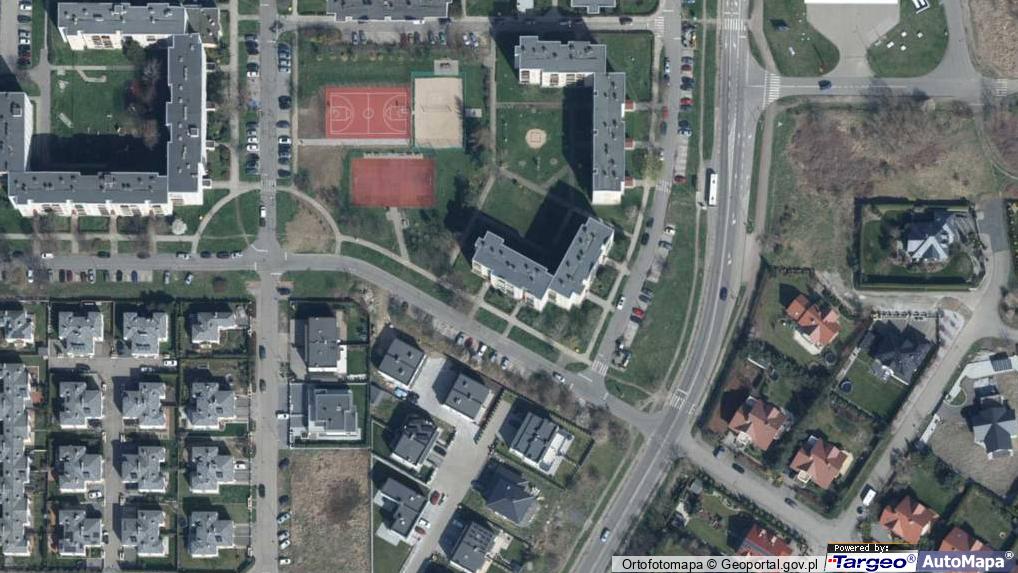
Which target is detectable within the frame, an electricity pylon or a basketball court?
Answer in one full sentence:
Of the two, only a basketball court appears.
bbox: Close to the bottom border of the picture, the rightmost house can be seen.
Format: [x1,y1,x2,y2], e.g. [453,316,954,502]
[928,524,987,573]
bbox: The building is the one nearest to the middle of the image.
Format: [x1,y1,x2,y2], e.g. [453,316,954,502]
[472,232,555,308]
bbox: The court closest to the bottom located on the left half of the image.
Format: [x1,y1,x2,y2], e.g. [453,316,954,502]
[352,158,435,208]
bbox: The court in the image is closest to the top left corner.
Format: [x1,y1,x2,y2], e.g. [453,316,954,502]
[326,88,411,138]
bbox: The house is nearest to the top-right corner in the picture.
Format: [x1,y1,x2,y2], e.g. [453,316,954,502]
[907,212,956,265]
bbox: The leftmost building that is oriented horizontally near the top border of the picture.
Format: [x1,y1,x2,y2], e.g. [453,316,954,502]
[58,2,189,51]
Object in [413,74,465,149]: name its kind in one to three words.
sports court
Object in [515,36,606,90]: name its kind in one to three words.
building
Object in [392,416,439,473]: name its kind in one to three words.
house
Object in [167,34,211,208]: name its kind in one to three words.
building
